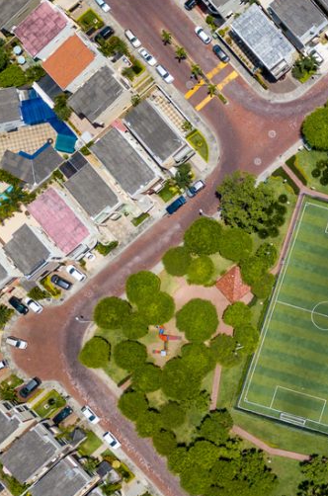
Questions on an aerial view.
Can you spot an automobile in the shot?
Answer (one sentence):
Yes, the image includes an automobile.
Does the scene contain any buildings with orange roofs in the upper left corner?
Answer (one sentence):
Yes, a building with an orange roof is visible in the upper left corner.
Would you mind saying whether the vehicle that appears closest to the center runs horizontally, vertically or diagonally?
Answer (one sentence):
From this overhead view, the vehicle that appears closest to the center appears to run diagonally.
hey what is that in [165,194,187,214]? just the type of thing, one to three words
vehicle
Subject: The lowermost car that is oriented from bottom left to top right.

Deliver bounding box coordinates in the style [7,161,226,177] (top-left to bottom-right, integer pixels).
[54,405,73,424]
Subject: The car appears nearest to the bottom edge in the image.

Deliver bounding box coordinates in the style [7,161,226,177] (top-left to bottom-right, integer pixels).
[102,429,121,449]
